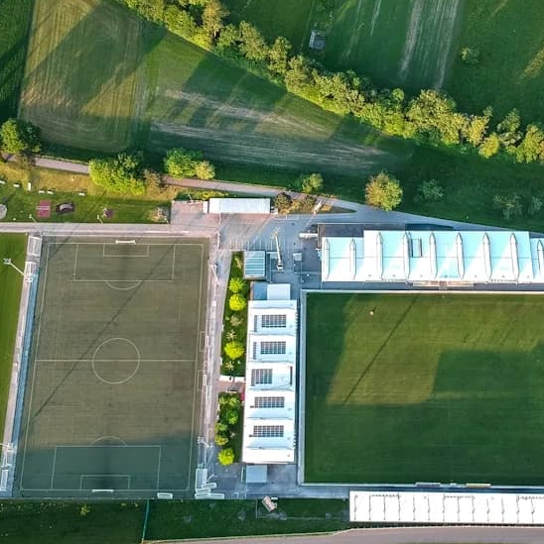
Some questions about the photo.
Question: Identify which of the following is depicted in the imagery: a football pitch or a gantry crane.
football pitch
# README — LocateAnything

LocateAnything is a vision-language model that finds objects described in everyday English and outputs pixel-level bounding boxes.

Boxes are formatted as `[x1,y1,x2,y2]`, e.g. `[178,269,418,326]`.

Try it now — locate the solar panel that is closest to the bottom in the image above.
[253,423,285,436]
